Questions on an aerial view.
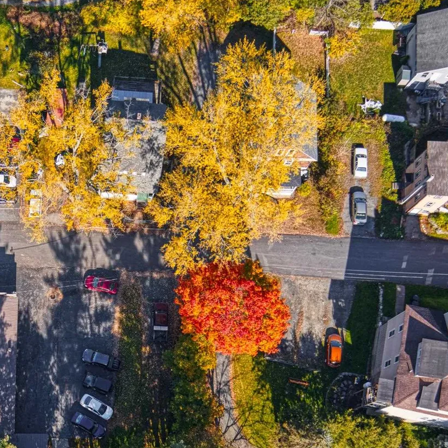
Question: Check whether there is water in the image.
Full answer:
No, there's no water in this view.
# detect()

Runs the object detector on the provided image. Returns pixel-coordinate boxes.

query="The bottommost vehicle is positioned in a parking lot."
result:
[71,411,106,438]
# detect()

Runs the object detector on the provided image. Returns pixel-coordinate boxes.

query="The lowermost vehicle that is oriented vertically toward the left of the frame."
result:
[151,303,169,342]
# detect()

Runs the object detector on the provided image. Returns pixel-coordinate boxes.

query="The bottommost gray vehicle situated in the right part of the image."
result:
[349,191,367,222]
